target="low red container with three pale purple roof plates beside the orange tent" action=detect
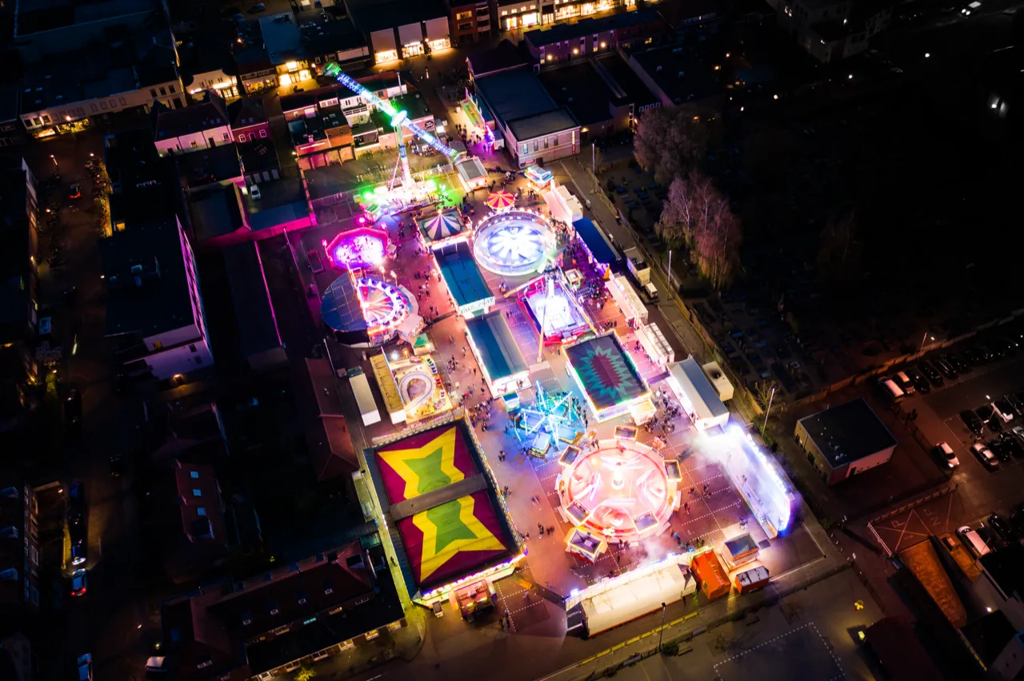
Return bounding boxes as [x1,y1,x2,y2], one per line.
[735,566,769,592]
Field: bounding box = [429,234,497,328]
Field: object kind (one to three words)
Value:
building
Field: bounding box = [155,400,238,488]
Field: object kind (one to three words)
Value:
house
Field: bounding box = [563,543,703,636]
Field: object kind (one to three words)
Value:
tent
